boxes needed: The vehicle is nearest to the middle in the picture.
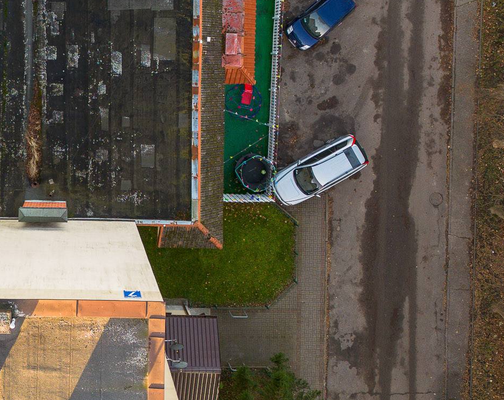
[273,135,369,206]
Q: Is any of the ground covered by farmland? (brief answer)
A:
No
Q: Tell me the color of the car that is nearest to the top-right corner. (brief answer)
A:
blue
